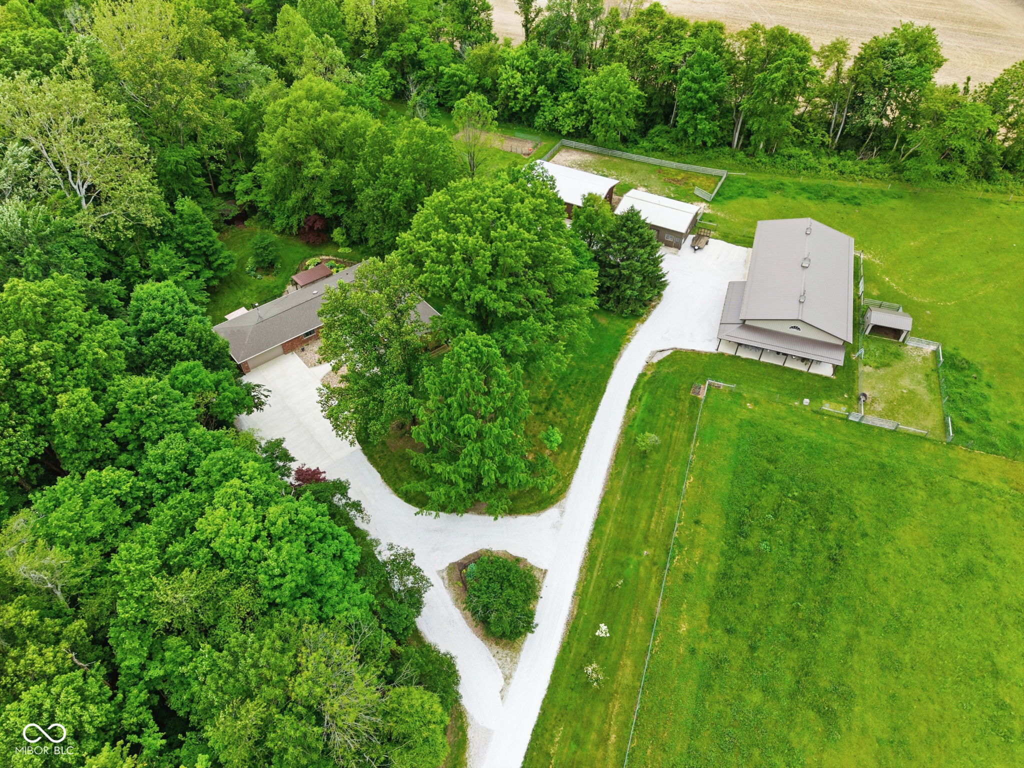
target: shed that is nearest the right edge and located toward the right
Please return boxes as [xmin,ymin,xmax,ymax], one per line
[865,304,910,341]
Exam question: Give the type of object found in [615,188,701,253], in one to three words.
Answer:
building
